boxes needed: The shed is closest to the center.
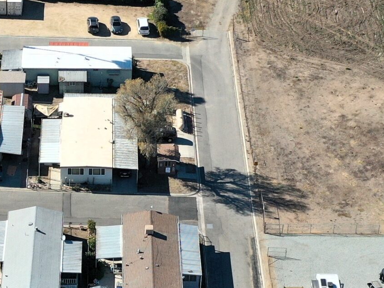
[157,141,178,174]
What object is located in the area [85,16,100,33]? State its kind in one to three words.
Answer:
car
